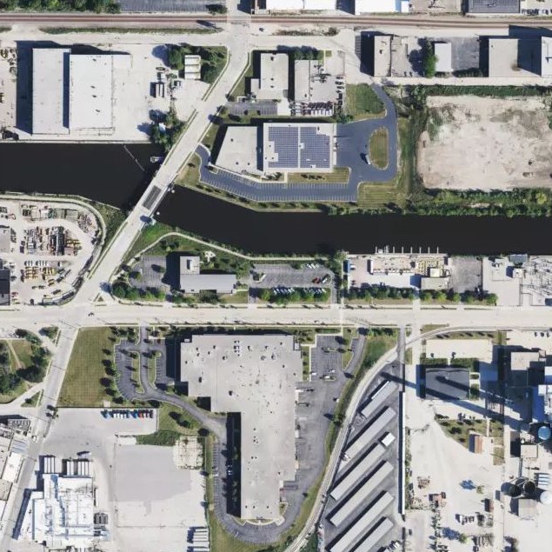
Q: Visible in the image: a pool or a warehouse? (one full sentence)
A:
Visible in the photo is a warehouse.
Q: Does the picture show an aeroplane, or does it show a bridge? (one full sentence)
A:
The image shows a bridge.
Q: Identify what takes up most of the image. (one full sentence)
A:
The bulk of the photo consists of paved ground.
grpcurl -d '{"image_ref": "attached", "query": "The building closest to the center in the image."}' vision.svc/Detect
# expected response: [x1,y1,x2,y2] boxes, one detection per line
[179,256,235,293]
